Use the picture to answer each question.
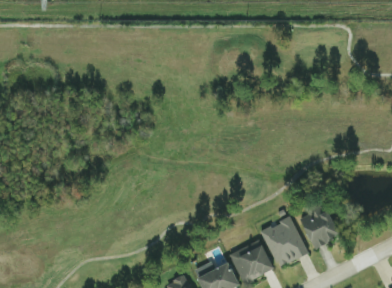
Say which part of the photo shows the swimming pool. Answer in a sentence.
Look in the bottom portion of the view to spot the swimming pool.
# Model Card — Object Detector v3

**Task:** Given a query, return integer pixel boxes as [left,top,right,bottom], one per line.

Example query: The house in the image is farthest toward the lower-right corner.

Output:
[301,210,339,251]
